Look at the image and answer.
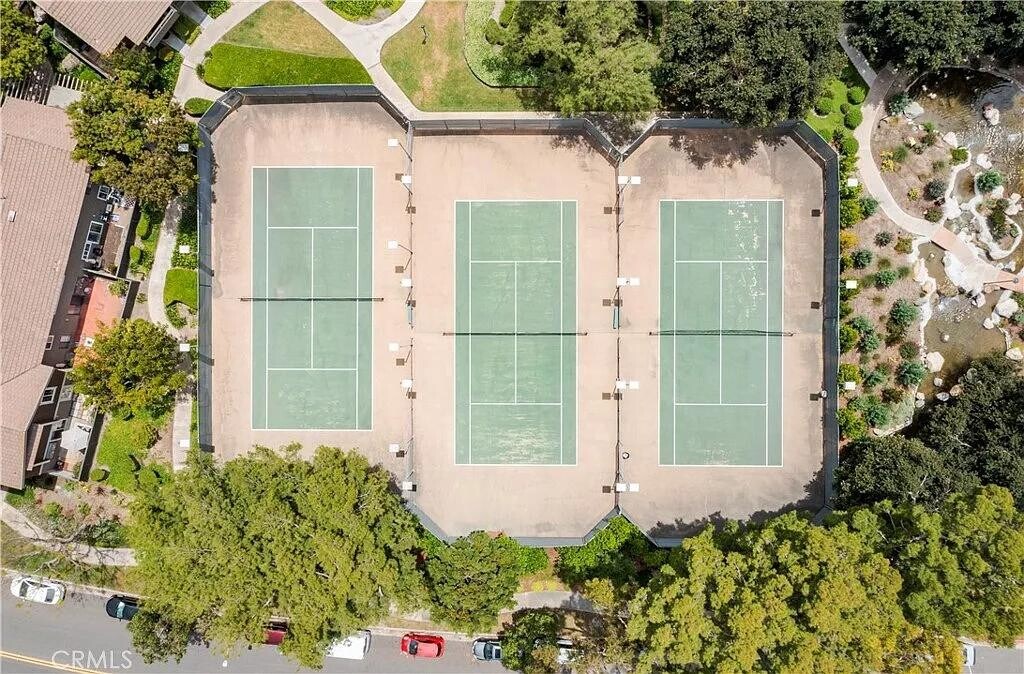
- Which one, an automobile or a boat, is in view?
automobile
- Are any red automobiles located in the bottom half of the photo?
Yes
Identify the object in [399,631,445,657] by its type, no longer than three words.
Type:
car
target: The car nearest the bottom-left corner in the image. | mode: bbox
[8,574,66,604]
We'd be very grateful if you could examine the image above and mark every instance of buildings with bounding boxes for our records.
[30,0,190,59]
[0,96,121,491]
